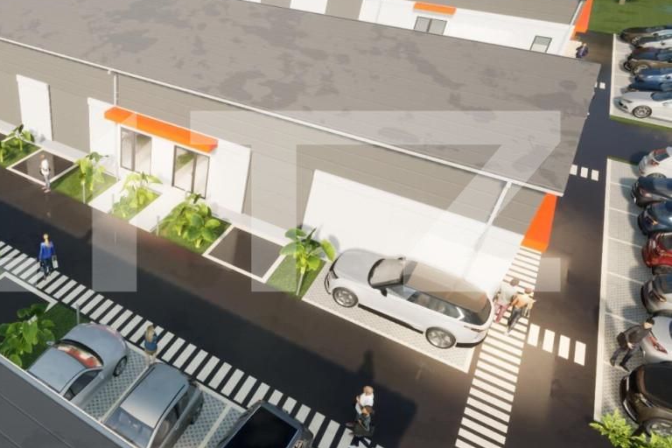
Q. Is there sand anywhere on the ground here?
No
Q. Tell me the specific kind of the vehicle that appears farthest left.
car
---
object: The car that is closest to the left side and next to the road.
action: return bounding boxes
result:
[28,320,126,404]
